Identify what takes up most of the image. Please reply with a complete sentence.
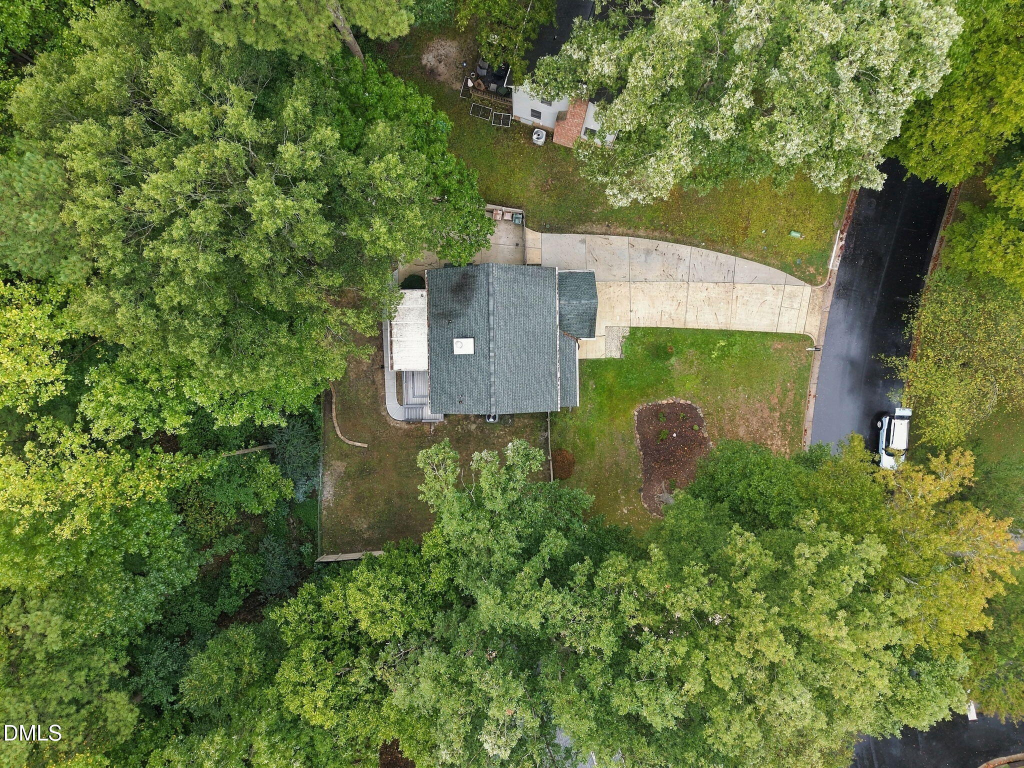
Most of the picture is covered by trees.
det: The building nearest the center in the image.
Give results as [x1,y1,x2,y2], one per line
[387,263,596,414]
